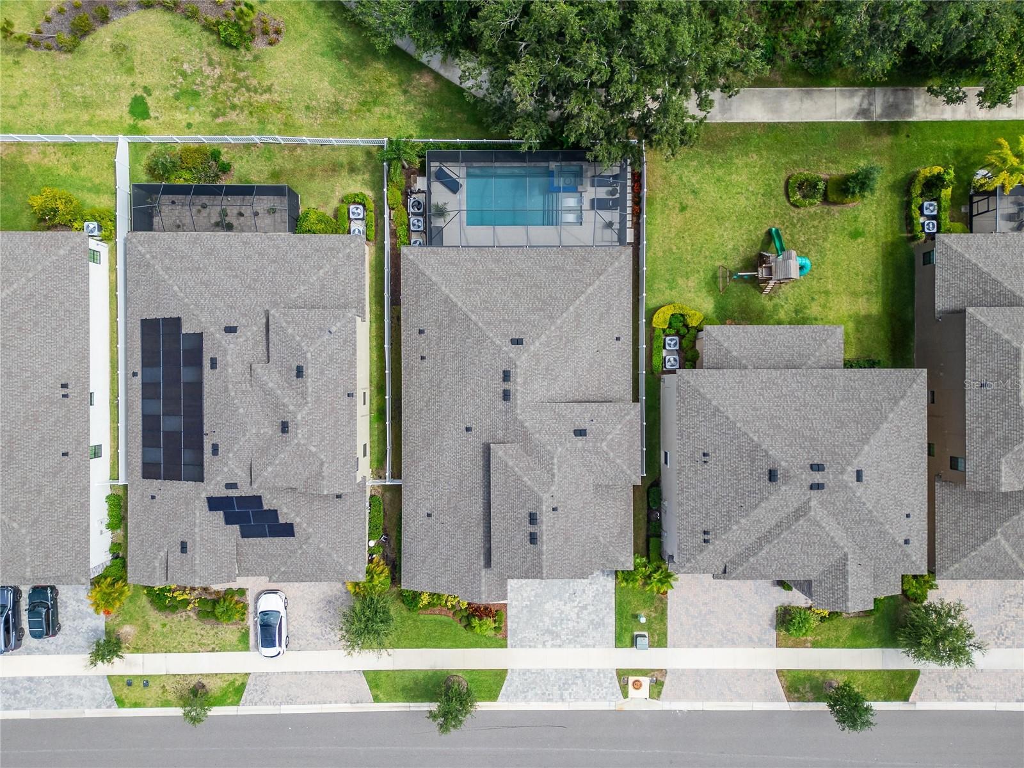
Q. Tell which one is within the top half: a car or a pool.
pool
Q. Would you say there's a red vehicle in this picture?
No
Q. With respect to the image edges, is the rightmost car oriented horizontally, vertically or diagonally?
vertically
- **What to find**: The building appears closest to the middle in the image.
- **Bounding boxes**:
[400,245,643,601]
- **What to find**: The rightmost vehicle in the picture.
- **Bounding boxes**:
[254,588,289,658]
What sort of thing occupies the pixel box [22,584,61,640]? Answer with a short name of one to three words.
car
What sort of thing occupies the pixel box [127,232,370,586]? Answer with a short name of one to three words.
house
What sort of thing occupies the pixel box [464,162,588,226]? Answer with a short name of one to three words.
swimming pool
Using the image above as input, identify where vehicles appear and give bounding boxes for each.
[254,588,289,658]
[0,584,27,653]
[22,584,61,640]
